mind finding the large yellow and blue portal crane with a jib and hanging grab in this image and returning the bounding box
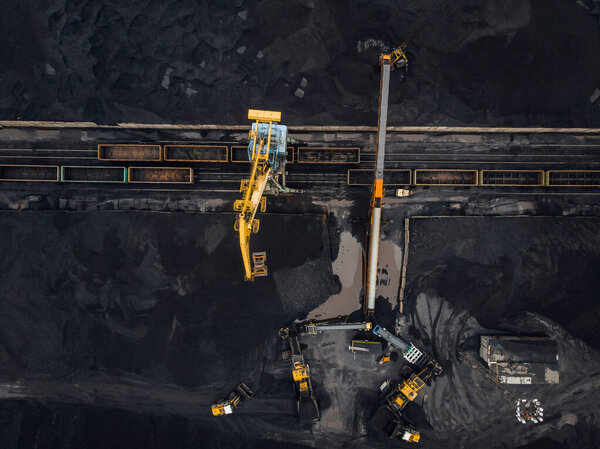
[231,107,316,283]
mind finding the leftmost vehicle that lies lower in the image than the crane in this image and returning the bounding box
[212,380,259,421]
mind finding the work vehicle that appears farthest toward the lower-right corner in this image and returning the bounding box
[384,420,424,443]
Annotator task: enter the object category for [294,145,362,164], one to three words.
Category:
rail car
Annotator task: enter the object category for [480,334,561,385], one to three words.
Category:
shed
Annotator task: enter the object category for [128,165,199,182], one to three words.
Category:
rail car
